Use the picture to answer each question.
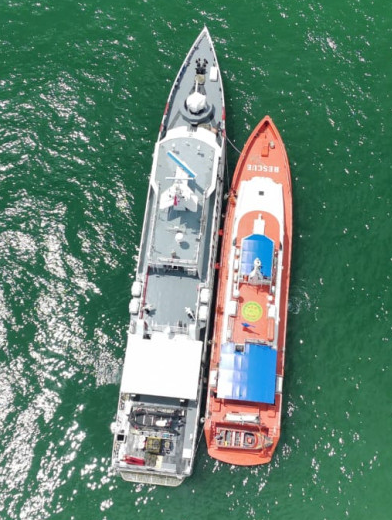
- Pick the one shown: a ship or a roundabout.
ship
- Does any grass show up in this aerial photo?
No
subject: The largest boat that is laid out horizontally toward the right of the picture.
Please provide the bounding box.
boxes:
[215,427,269,451]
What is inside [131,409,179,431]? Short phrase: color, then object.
gray boat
